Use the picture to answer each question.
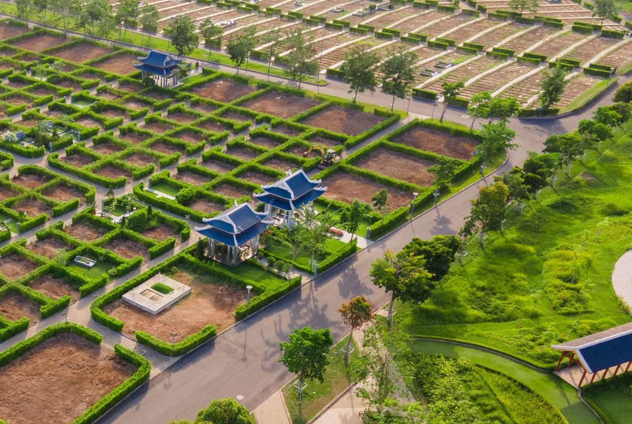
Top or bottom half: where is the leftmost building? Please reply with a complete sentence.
You can find the leftmost building in the top half.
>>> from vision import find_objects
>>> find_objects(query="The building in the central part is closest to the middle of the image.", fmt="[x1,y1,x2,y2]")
[250,165,332,232]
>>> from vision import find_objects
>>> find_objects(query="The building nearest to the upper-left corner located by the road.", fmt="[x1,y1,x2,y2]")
[137,46,194,91]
